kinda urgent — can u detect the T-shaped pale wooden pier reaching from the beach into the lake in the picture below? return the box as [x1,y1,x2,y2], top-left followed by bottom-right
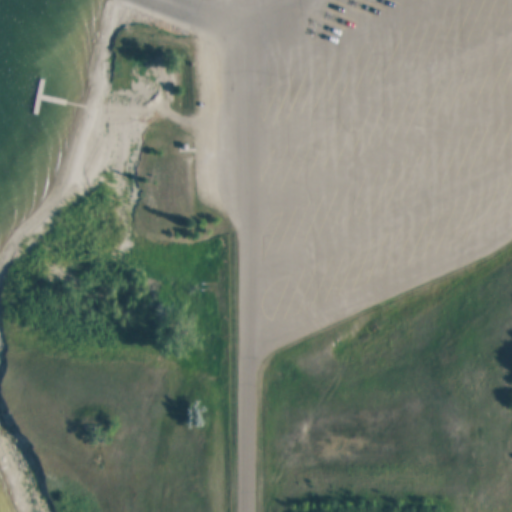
[34,80,91,116]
